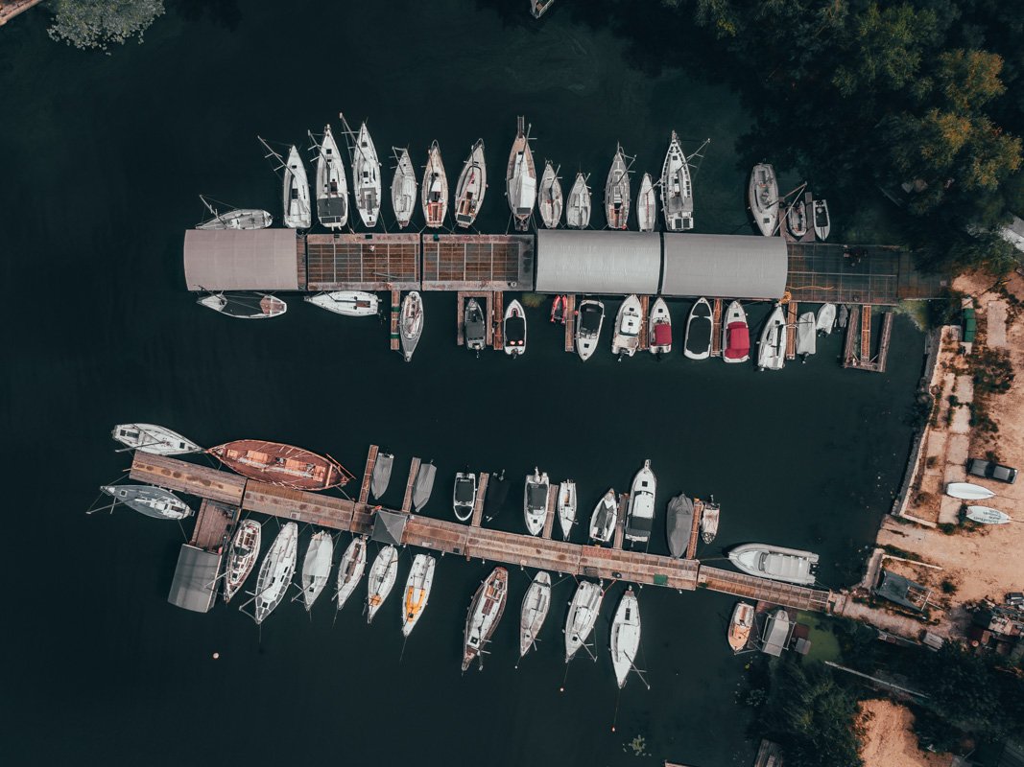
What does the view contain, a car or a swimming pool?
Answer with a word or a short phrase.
car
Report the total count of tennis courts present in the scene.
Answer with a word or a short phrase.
0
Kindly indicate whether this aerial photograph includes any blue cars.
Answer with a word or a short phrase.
No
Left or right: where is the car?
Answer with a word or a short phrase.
right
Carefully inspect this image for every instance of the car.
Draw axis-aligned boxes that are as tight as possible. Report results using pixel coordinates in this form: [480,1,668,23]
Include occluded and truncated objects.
[964,457,1019,485]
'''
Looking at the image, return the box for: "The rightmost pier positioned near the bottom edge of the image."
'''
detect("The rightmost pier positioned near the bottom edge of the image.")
[752,738,777,767]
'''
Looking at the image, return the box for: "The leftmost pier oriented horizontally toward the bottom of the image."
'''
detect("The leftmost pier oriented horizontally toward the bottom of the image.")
[129,450,248,507]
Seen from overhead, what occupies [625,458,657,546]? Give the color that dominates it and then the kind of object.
white boat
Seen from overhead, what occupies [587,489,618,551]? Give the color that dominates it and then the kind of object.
white boat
